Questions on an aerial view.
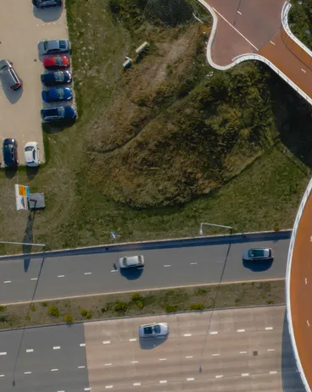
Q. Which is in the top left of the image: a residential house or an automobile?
automobile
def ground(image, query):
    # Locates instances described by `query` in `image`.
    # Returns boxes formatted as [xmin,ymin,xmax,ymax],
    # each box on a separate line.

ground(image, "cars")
[138,323,172,337]
[40,70,74,86]
[243,247,276,262]
[119,255,146,269]
[1,138,19,168]
[0,59,22,92]
[40,107,79,122]
[42,54,72,69]
[38,38,73,54]
[39,87,74,102]
[33,0,65,8]
[24,140,42,167]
